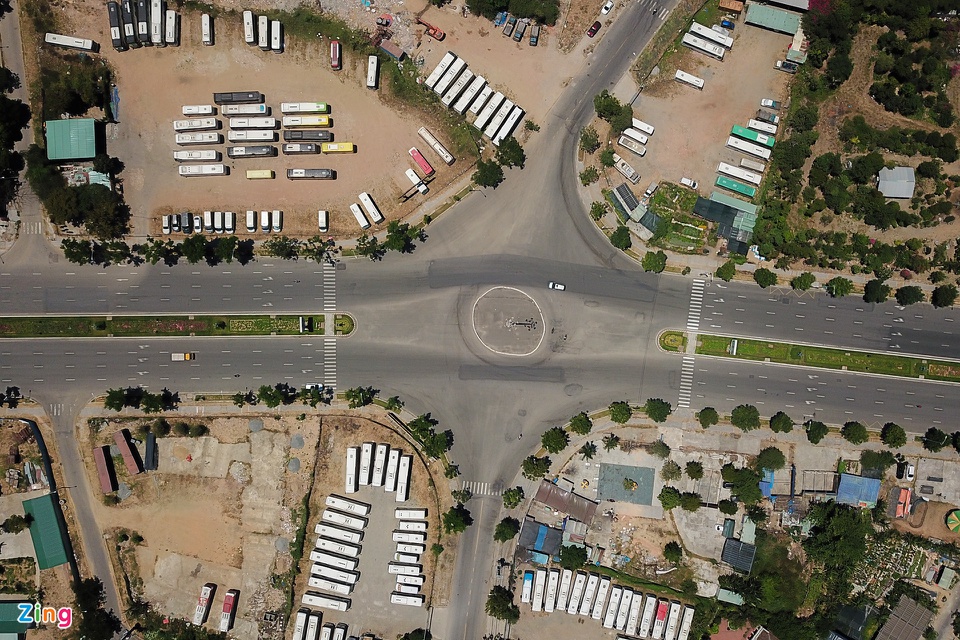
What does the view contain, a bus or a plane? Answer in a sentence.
This aerial view contains a bus.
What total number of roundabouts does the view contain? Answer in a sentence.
Not a single roundabout can be seen.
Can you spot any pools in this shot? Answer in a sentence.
No, the frame has no pool in it.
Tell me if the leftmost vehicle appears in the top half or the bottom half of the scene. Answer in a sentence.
It is in the top half that the leftmost vehicle appears.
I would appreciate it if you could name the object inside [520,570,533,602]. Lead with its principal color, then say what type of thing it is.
white vehicle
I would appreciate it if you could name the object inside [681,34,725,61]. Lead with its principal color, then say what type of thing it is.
white bus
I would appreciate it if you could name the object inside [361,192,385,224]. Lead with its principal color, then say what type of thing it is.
white bus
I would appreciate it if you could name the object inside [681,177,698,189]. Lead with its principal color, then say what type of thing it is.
white vehicle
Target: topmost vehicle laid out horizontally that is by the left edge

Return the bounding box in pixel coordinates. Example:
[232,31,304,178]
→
[44,33,98,52]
